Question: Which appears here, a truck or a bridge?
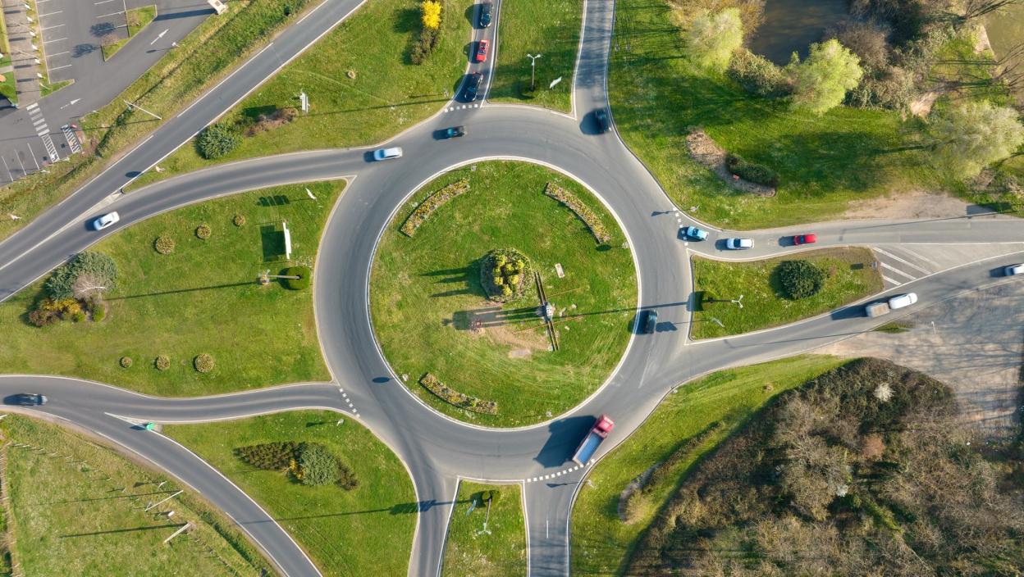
truck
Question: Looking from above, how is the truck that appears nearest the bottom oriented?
at an angle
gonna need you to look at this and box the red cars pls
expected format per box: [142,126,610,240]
[476,38,489,64]
[791,233,818,247]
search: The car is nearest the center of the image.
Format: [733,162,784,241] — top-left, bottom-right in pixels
[643,308,658,334]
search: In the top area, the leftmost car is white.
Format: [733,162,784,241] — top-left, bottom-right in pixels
[92,209,122,232]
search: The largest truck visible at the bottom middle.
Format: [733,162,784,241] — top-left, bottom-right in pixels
[571,413,617,470]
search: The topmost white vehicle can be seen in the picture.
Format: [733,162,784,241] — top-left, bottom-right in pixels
[374,146,404,161]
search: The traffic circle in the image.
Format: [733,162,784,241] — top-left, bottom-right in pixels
[315,104,693,483]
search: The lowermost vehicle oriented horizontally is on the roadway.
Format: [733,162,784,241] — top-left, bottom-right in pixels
[19,392,49,407]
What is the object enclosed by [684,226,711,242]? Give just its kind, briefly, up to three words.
car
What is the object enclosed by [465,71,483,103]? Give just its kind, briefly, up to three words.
car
